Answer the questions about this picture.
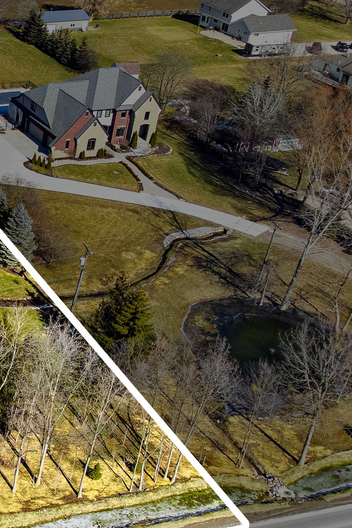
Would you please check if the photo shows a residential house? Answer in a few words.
Yes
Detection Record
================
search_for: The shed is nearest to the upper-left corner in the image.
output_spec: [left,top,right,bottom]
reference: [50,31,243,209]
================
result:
[32,8,93,34]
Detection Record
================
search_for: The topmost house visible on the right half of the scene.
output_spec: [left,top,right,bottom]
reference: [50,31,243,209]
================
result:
[194,0,302,41]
